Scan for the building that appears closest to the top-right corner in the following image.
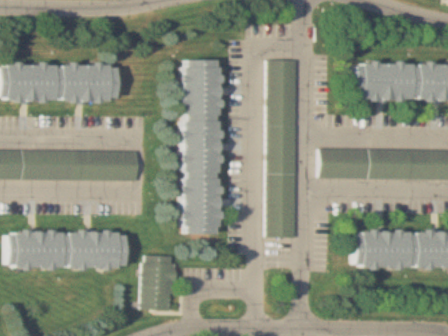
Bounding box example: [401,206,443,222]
[349,62,448,103]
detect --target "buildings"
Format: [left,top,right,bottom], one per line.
[262,60,295,238]
[348,230,448,271]
[349,62,448,103]
[316,148,448,180]
[0,150,138,180]
[176,60,225,234]
[0,62,121,104]
[132,256,172,311]
[0,230,129,271]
